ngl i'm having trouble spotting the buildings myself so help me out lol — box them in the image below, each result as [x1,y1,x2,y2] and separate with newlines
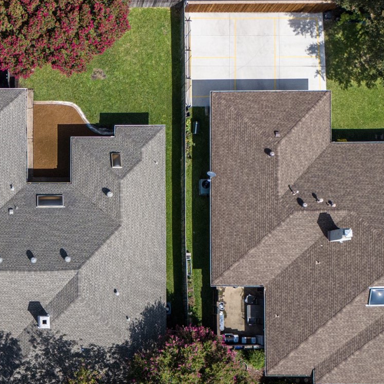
[207,90,384,384]
[0,87,169,384]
